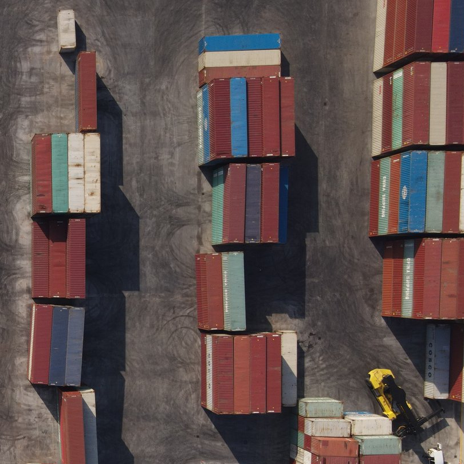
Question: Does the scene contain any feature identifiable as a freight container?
Yes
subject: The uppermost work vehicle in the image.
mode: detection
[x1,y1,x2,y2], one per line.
[371,369,439,437]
